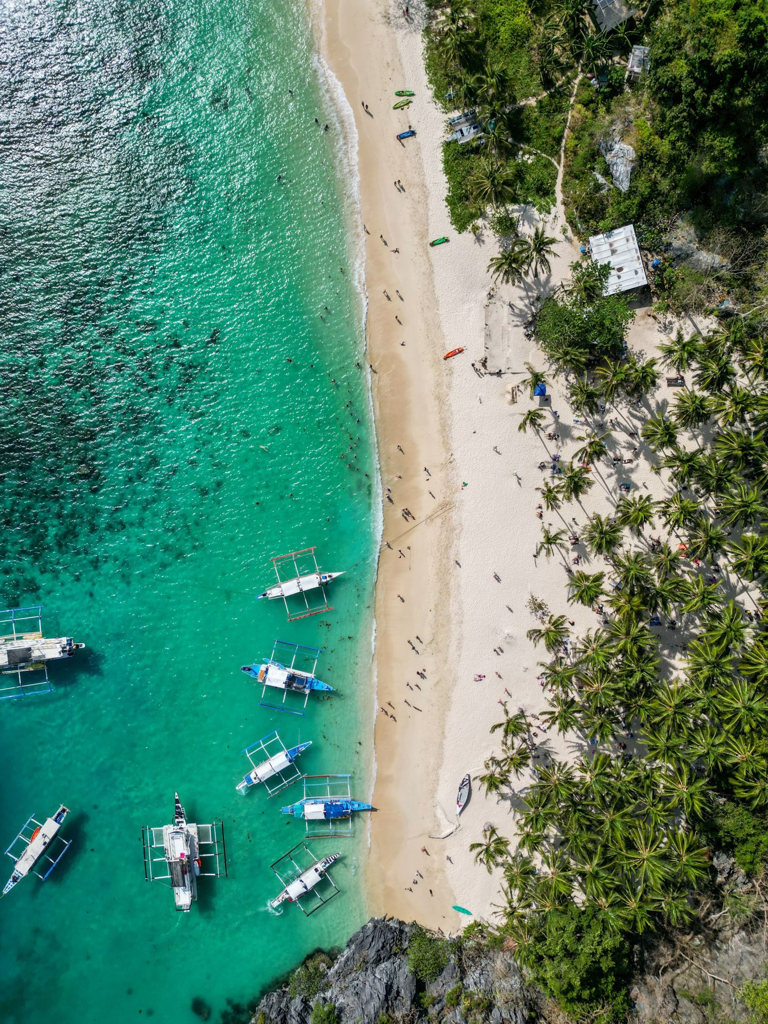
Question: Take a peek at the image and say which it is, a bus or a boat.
boat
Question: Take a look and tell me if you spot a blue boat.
Yes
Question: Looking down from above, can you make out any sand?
Yes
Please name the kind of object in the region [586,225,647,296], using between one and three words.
shed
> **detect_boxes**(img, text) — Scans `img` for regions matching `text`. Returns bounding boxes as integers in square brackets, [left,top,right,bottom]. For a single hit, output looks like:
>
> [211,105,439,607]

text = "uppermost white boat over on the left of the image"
[257,547,346,621]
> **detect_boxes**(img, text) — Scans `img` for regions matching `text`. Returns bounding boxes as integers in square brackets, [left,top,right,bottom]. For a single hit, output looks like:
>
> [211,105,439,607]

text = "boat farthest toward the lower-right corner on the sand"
[457,773,469,815]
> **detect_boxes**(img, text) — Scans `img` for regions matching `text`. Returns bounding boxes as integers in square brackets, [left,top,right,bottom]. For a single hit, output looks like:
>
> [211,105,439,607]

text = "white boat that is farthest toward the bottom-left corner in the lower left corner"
[3,803,72,894]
